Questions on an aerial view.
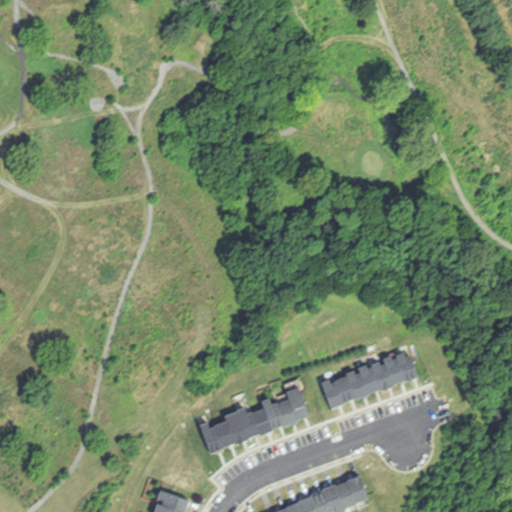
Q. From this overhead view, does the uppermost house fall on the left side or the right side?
right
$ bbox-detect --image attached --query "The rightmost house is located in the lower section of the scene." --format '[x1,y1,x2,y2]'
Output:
[322,352,418,410]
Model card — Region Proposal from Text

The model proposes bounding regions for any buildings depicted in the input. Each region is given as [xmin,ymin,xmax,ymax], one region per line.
[322,352,418,410]
[153,492,188,512]
[199,389,308,454]
[270,477,368,512]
